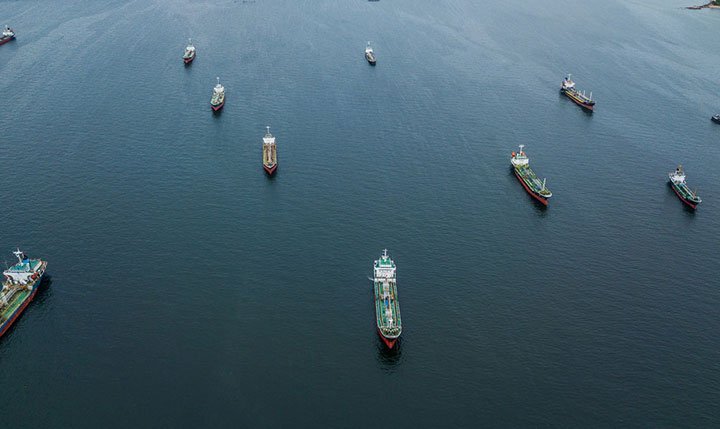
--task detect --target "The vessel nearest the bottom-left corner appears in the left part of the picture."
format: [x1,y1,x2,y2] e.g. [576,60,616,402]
[0,250,48,337]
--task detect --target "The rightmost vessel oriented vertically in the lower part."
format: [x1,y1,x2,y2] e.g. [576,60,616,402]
[368,255,401,347]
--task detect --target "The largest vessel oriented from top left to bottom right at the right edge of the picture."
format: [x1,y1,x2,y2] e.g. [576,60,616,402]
[662,166,709,210]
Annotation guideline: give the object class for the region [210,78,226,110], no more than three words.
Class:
ship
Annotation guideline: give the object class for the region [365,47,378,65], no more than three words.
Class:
ship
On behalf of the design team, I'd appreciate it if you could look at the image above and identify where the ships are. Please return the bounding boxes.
[0,250,48,337]
[368,255,401,347]
[262,126,277,175]
[662,166,709,210]
[0,27,14,44]
[506,146,554,205]
[210,78,226,110]
[365,47,378,65]
[181,41,196,63]
[558,77,597,111]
